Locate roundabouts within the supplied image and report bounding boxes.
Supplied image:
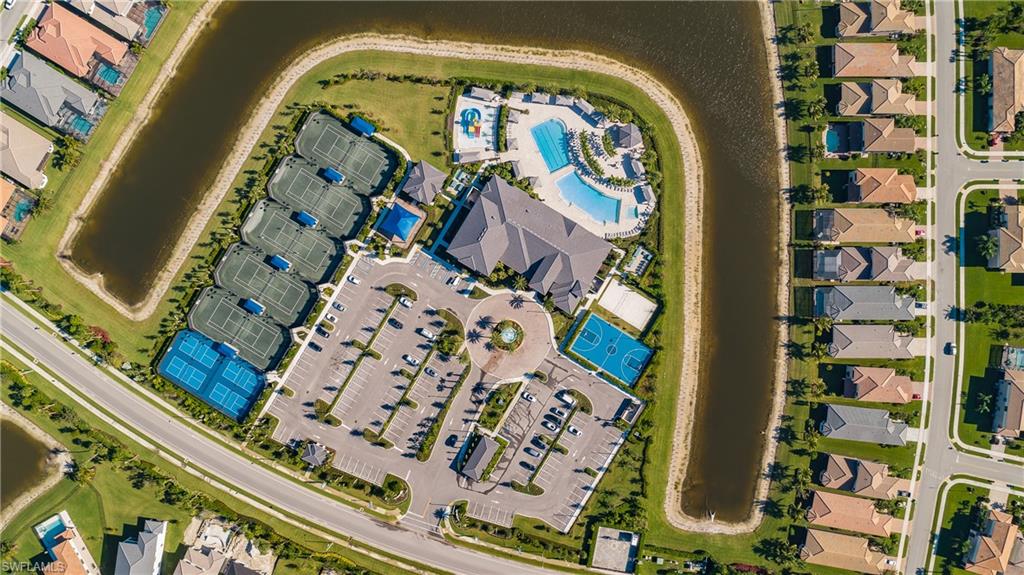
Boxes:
[466,292,551,378]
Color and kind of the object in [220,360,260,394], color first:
blue sports court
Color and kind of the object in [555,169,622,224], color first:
blue swimming pool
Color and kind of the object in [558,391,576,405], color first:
white vehicle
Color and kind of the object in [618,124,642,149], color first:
gray gazebo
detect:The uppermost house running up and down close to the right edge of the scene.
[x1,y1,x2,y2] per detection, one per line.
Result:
[989,47,1024,132]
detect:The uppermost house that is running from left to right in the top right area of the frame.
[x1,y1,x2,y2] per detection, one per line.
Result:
[835,0,915,37]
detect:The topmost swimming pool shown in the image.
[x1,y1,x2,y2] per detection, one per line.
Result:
[145,6,161,39]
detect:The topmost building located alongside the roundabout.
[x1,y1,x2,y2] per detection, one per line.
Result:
[447,175,613,317]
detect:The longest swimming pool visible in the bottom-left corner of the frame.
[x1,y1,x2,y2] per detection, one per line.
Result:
[43,519,67,548]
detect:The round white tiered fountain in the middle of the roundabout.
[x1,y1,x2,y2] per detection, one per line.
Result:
[501,327,517,343]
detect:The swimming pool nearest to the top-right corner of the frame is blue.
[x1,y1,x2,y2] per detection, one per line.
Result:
[826,129,841,153]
